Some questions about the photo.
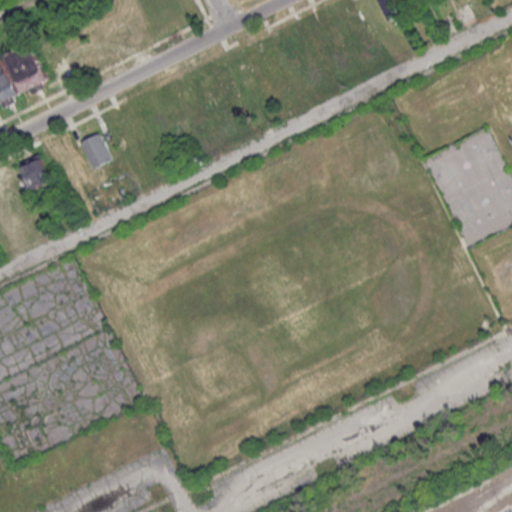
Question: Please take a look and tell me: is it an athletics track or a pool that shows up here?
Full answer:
The one in the frame is an athletics track.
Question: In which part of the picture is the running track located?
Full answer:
The running track appears toward the center of the photo.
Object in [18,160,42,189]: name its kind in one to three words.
house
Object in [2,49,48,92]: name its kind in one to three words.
house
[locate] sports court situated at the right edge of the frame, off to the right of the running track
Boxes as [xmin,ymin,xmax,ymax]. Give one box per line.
[426,132,512,244]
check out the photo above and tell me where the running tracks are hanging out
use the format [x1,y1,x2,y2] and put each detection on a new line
[150,196,429,404]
